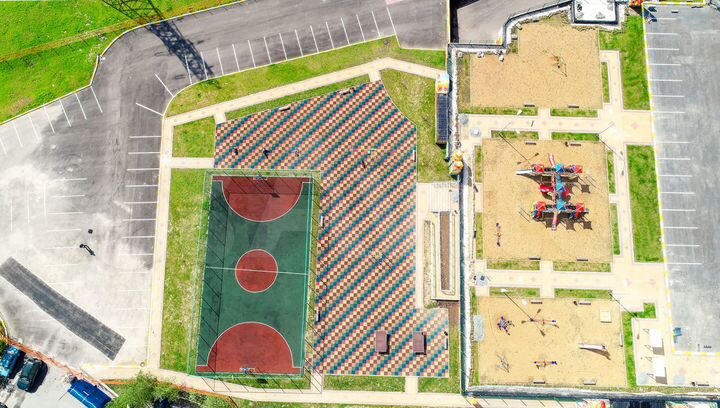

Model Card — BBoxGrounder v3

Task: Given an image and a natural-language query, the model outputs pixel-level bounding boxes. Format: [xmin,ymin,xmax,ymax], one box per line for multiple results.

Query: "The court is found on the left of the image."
[197,174,314,376]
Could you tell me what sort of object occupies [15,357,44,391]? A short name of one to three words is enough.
car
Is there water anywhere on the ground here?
No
